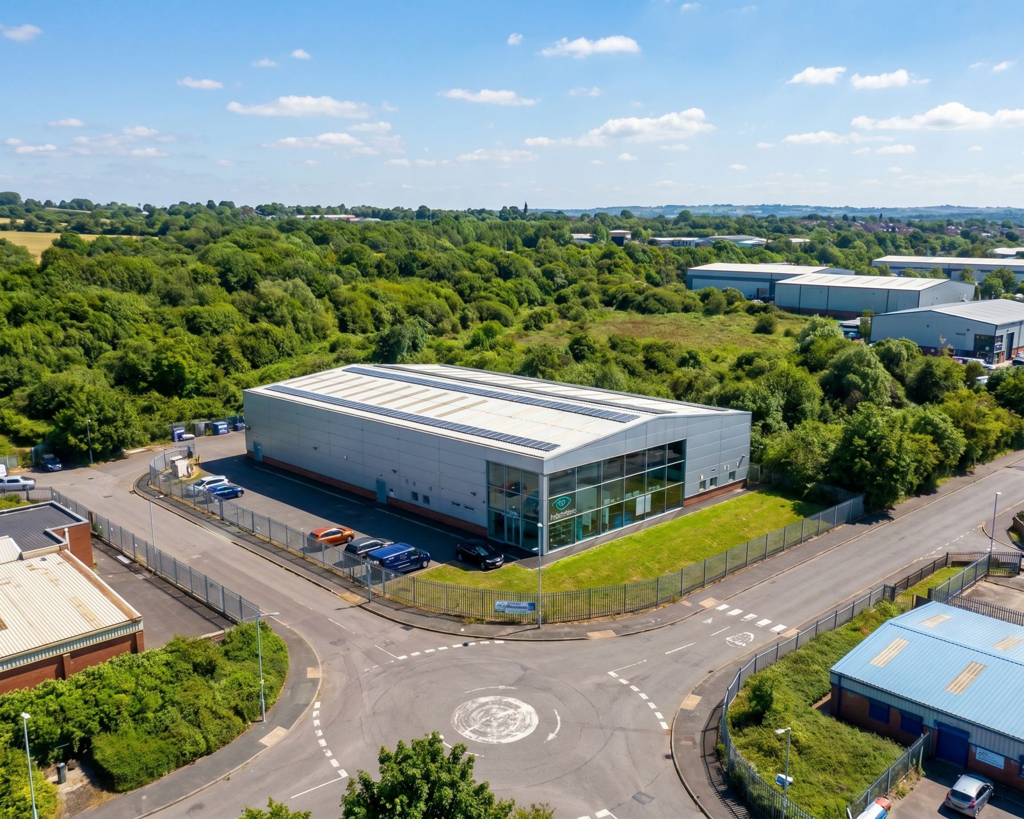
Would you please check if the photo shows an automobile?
Yes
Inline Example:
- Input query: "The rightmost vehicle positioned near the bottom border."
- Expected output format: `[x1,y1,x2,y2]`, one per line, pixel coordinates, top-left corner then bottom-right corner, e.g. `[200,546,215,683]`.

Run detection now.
[934,763,1005,814]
